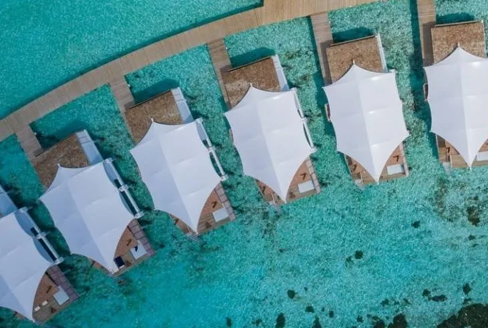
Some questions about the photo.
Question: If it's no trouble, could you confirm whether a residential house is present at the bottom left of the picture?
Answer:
Yes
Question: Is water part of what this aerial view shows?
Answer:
Yes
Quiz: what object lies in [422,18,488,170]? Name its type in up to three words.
house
